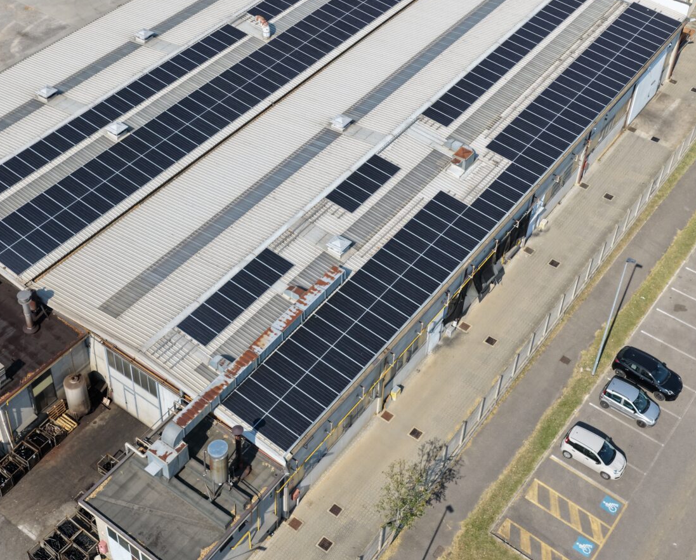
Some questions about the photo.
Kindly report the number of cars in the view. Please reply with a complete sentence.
I count 3 cars.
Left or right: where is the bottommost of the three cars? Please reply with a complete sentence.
You can find the bottommost of the three cars on the right side of the picture.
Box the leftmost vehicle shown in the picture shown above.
[557,421,629,479]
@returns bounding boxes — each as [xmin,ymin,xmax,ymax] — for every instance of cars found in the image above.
[612,340,688,399]
[557,421,629,479]
[596,371,663,427]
